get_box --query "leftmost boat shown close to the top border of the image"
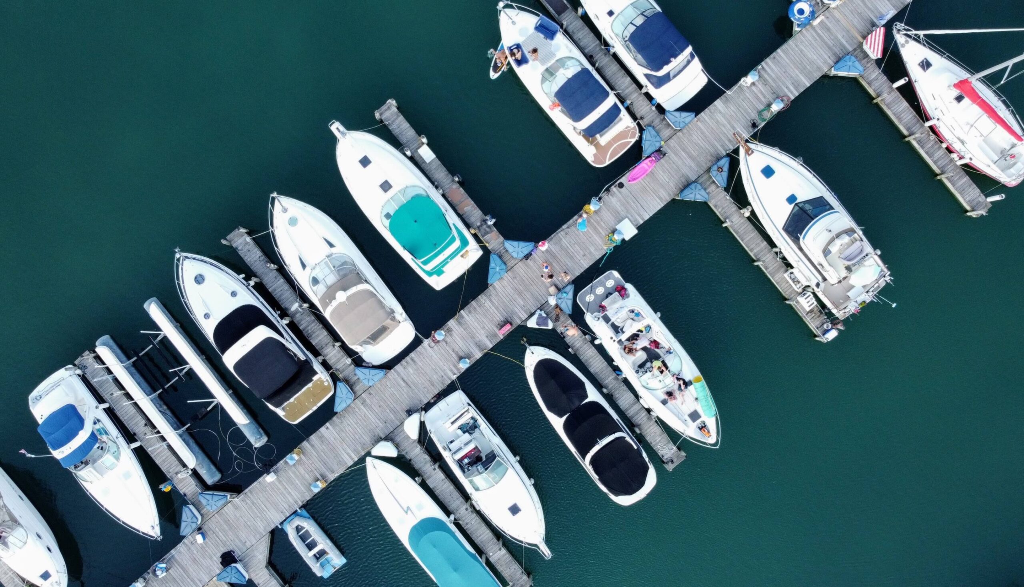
[497,0,640,168]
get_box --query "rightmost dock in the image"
[848,48,991,217]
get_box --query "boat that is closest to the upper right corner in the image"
[892,22,1024,187]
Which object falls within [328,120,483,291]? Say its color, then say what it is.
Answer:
white boat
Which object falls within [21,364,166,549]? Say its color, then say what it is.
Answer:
white boat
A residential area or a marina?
marina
